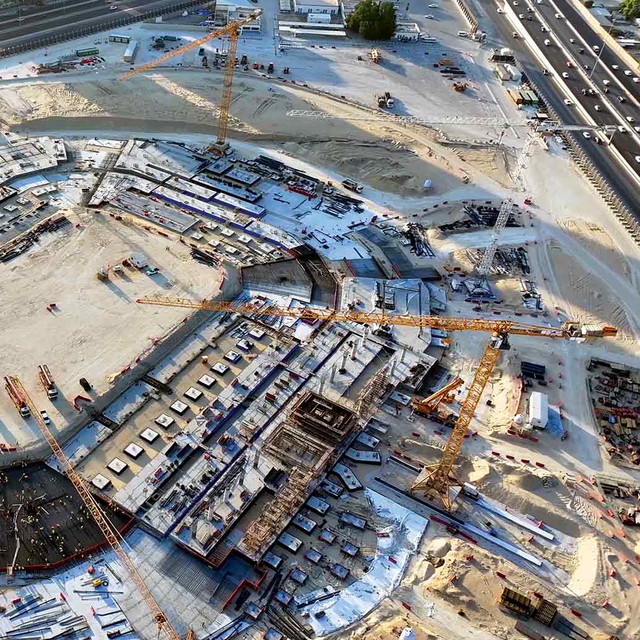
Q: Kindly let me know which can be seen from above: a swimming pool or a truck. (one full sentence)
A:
The one in the frame is a truck.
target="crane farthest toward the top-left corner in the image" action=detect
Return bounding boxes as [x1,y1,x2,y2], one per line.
[119,13,269,162]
